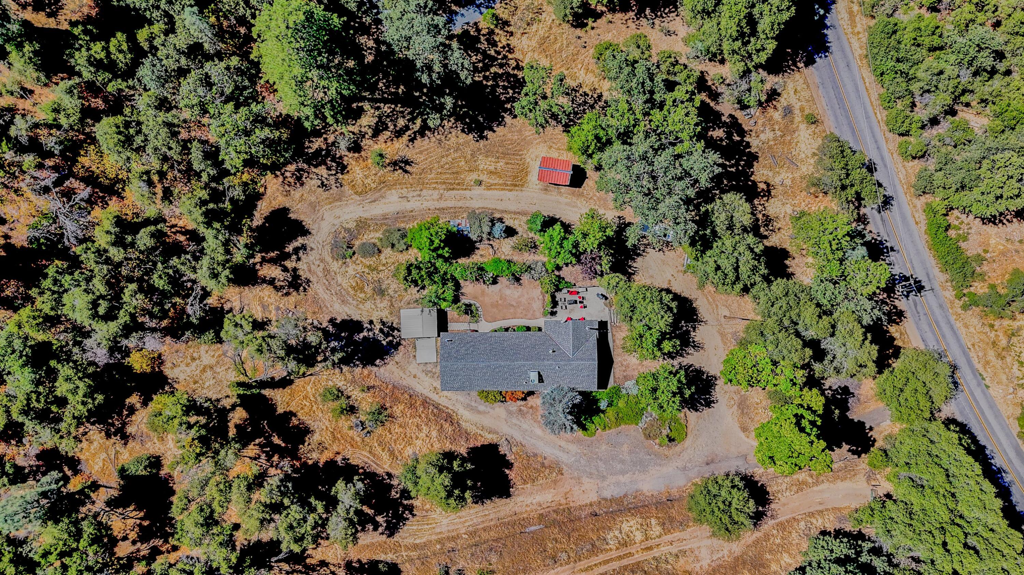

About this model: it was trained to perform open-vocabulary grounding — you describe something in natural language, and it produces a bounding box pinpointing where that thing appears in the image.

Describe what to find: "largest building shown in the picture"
[439,319,599,391]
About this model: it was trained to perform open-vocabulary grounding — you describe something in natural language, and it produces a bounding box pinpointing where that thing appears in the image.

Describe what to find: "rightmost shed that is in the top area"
[537,156,573,185]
